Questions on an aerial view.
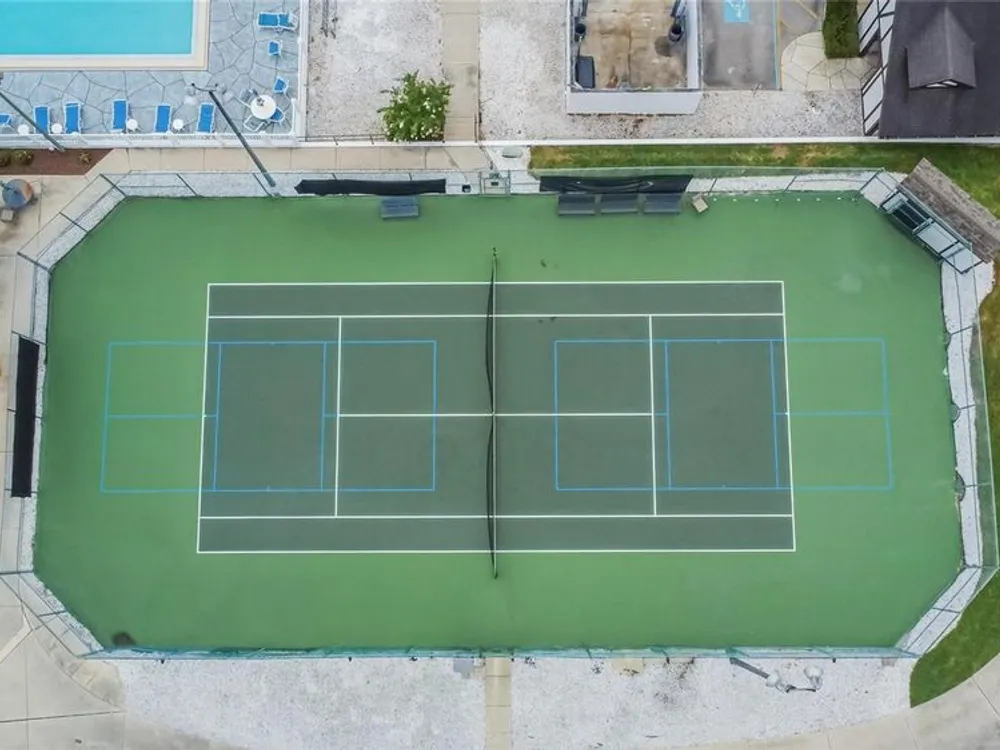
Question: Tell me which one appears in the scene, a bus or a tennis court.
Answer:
tennis court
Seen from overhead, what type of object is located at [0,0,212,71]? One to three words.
swimming pool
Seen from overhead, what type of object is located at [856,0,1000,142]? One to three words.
house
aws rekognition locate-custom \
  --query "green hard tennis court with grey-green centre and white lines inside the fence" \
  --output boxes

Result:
[33,195,963,648]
